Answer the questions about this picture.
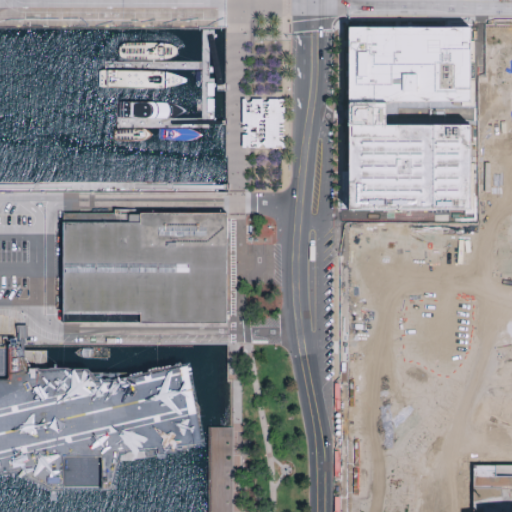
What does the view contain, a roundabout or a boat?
boat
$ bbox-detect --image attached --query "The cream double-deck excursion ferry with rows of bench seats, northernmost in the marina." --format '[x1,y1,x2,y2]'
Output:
[119,42,178,60]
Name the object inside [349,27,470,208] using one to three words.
building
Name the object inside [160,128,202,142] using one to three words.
boat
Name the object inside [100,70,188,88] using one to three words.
boat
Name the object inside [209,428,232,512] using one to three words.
pier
